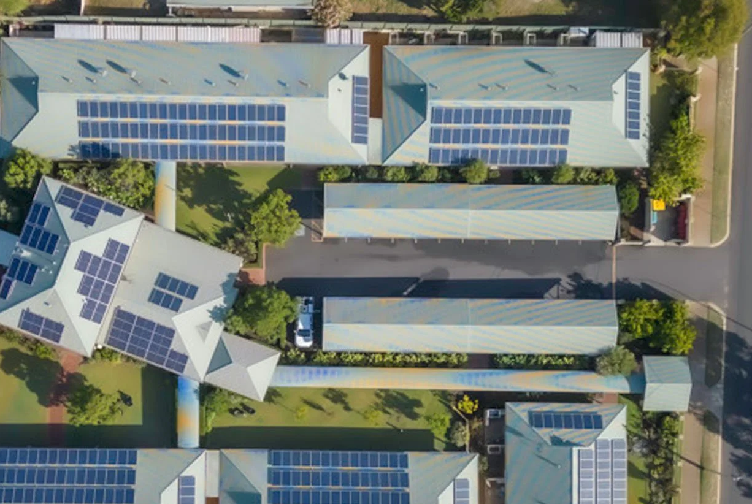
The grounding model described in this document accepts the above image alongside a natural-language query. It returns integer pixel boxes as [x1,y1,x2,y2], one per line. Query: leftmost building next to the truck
[0,175,280,400]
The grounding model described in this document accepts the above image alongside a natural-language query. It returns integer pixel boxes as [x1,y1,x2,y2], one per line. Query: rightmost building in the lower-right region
[633,357,695,412]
